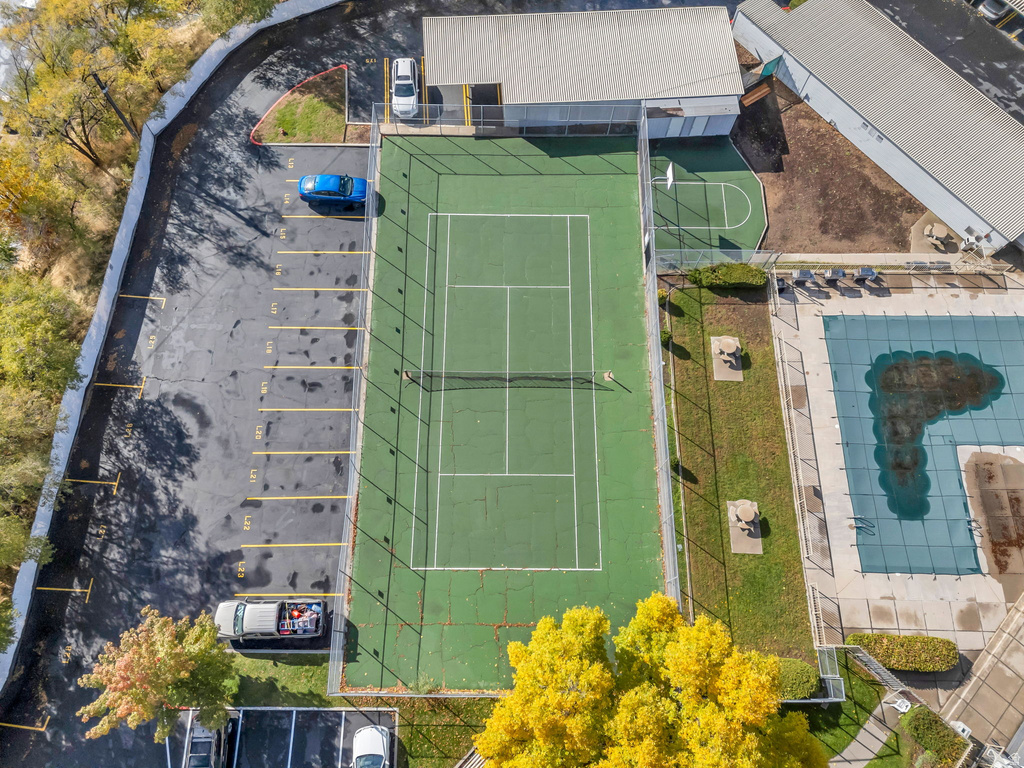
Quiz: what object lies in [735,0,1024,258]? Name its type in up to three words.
building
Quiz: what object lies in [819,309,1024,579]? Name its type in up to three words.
swimming pool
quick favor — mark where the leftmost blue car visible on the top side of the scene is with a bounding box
[296,172,367,205]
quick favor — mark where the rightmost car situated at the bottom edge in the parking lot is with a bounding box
[347,726,389,768]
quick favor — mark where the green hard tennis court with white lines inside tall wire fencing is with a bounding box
[340,136,667,690]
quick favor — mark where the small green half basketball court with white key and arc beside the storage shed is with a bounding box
[638,135,766,272]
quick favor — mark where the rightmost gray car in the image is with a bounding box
[975,0,1011,22]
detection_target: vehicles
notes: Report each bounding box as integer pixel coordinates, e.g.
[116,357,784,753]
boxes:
[214,599,326,642]
[975,0,1011,22]
[177,714,229,768]
[347,726,389,768]
[390,57,420,118]
[296,172,367,205]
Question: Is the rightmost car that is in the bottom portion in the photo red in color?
No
